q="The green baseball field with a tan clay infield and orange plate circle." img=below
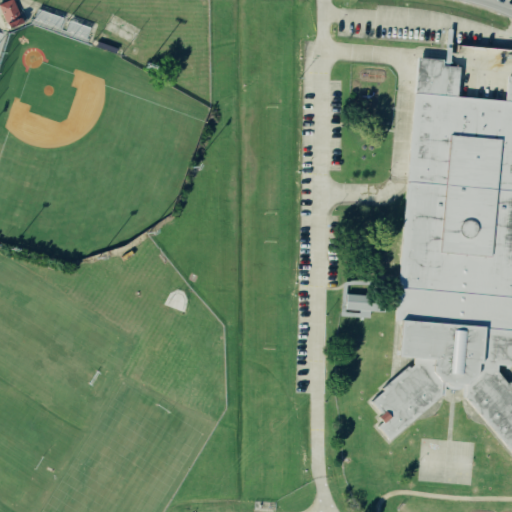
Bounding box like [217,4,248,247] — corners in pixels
[0,24,209,254]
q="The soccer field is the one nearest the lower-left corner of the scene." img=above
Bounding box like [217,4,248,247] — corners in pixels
[44,384,202,512]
